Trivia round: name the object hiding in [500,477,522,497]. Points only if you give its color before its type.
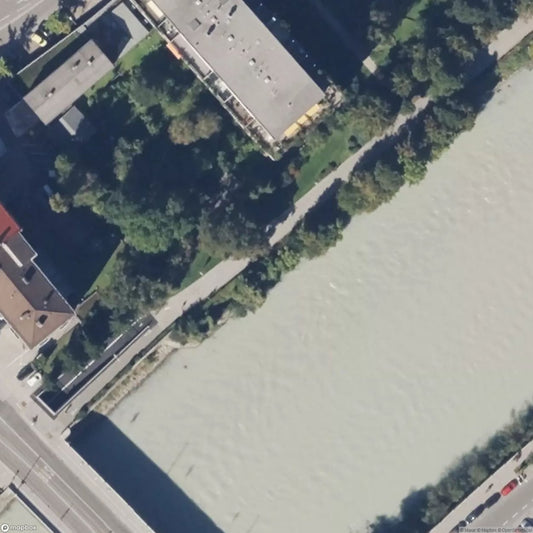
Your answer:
red car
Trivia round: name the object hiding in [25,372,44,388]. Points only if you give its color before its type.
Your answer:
white car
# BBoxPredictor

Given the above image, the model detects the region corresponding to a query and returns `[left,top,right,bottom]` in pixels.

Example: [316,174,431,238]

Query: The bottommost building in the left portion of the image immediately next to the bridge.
[0,232,75,350]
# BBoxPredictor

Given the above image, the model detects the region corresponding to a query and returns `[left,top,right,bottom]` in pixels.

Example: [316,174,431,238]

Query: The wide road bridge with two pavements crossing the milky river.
[0,397,156,533]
